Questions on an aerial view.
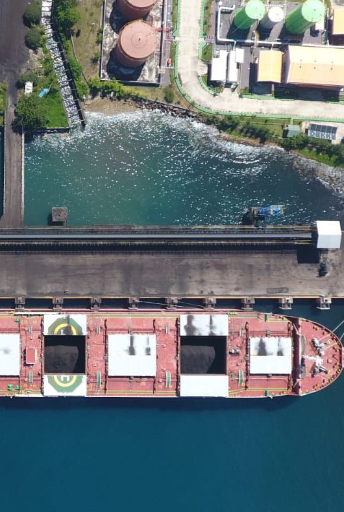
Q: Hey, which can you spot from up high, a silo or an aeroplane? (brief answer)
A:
silo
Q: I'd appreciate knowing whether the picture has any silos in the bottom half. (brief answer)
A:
No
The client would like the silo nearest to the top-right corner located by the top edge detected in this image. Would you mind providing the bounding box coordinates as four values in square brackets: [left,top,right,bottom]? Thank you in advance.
[284,0,327,36]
